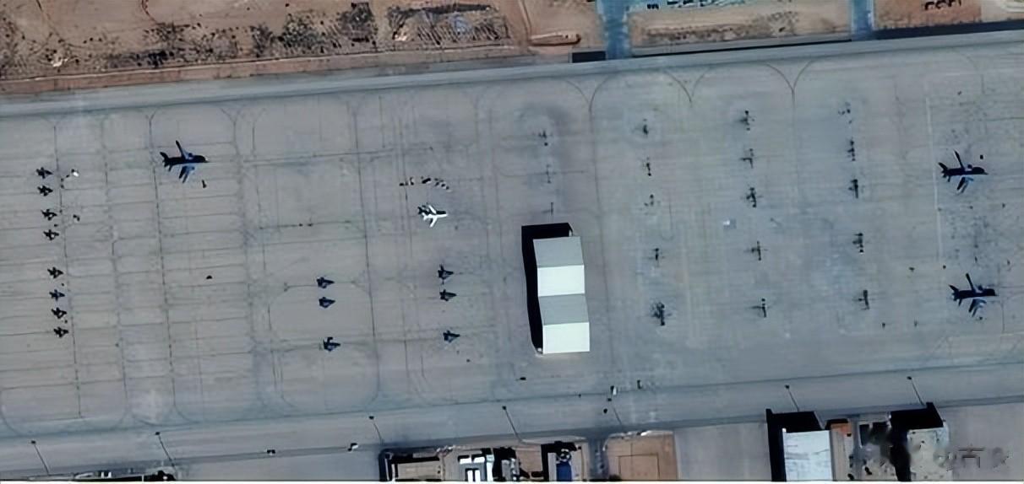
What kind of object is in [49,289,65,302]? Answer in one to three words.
airplane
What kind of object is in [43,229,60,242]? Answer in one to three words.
airplane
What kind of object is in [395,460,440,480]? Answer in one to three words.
building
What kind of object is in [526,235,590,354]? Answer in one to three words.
hangar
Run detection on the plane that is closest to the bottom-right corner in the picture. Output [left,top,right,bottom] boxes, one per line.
[958,277,994,315]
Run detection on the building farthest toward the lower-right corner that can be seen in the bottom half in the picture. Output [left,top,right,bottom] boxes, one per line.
[898,425,952,484]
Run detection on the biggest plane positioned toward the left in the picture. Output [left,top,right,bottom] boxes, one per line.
[165,142,207,183]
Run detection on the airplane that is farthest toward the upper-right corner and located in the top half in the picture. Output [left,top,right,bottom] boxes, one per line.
[948,155,984,193]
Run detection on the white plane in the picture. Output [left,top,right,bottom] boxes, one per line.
[422,203,447,227]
